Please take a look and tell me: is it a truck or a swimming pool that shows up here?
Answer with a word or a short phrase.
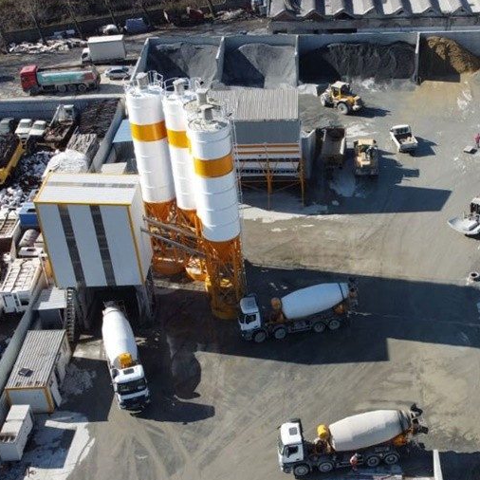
truck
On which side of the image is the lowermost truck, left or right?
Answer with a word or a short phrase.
right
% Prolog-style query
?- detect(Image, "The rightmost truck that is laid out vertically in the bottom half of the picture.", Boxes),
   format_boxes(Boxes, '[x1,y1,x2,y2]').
[94,301,149,408]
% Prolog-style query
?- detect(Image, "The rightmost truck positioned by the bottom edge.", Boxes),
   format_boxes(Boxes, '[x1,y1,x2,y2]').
[280,415,429,478]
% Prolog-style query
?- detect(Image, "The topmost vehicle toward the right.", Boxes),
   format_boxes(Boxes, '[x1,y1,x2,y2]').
[308,77,369,114]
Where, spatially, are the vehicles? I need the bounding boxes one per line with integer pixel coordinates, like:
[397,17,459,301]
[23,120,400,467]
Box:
[308,77,369,114]
[351,135,380,177]
[239,279,361,338]
[280,415,429,478]
[33,100,78,151]
[0,116,18,140]
[11,119,34,139]
[19,68,95,96]
[94,301,149,408]
[437,198,480,247]
[68,31,134,65]
[24,121,49,141]
[100,62,132,76]
[316,123,345,175]
[391,128,418,154]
